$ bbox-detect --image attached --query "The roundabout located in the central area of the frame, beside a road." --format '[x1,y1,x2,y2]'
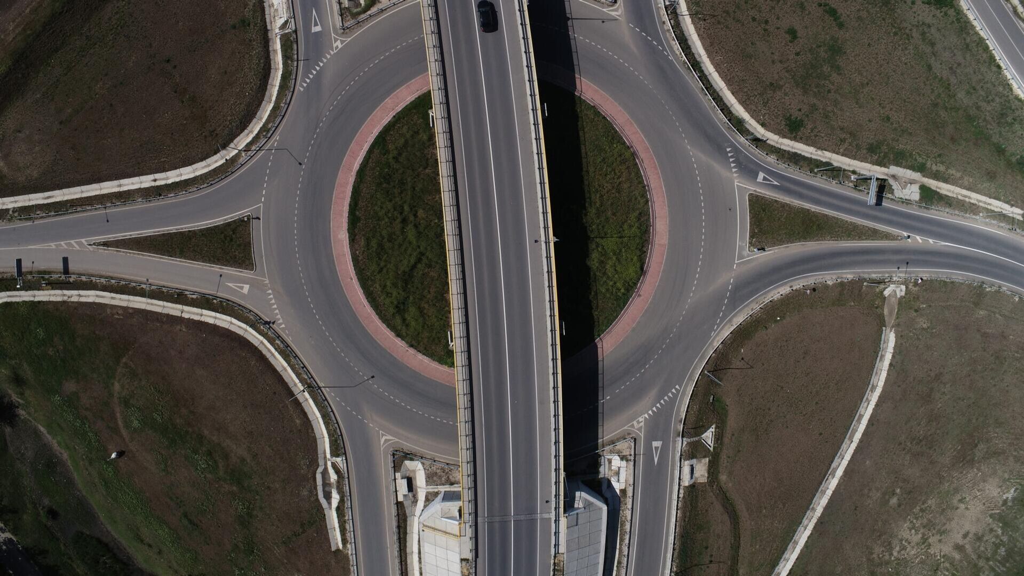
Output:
[260,0,738,461]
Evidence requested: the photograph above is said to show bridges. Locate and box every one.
[417,0,606,576]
